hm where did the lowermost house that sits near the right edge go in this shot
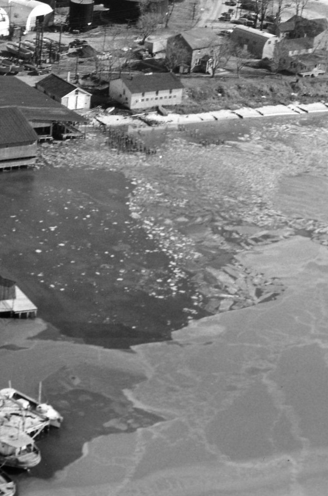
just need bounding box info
[270,44,322,74]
